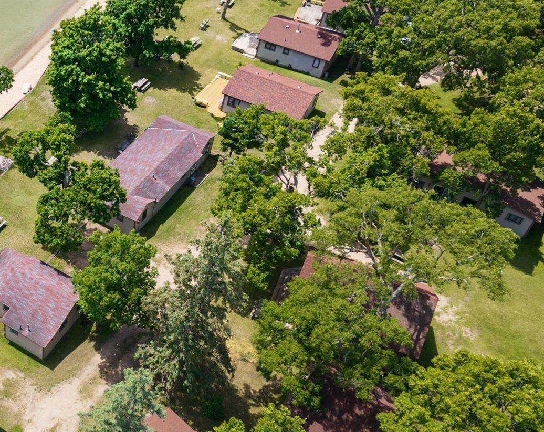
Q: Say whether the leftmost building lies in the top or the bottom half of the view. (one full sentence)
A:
You can find the leftmost building in the bottom half.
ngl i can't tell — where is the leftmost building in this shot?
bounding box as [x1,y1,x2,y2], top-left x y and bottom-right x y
[0,246,95,357]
